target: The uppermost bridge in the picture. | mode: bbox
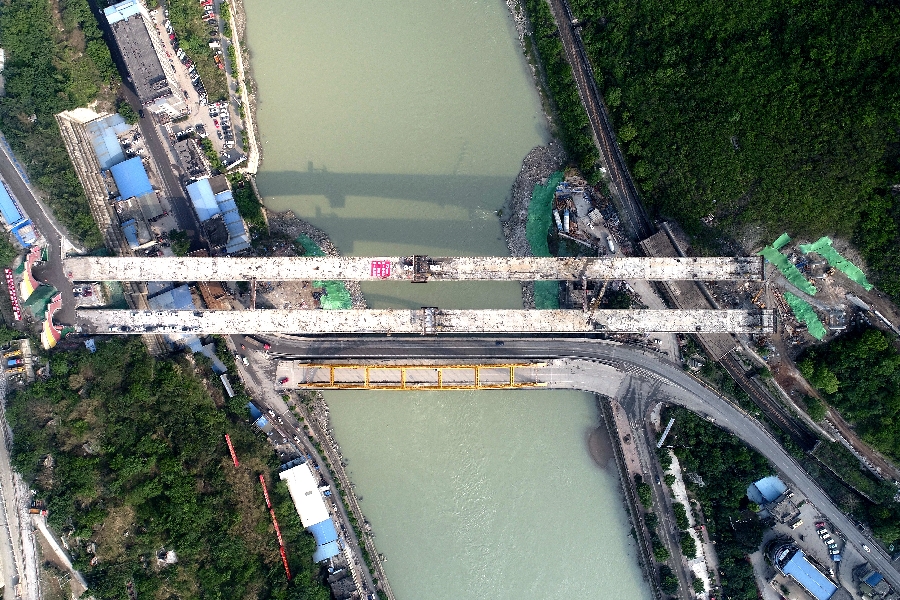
[69,257,762,281]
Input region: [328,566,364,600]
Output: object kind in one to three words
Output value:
house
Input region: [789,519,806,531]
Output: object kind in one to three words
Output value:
vehicle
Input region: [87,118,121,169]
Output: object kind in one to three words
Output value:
shed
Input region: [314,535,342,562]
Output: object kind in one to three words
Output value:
building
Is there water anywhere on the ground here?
Yes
